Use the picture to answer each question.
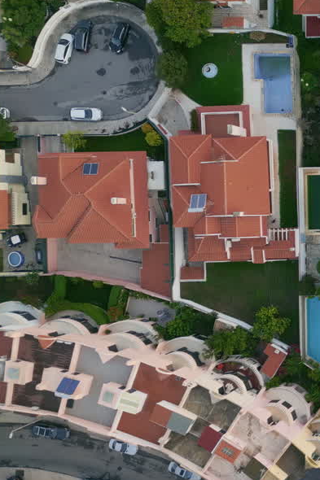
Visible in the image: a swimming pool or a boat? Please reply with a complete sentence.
The one in the frame is a swimming pool.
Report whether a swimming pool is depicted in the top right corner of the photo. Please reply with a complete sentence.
Yes, you'll find a swimming pool in the top right corner of the photo.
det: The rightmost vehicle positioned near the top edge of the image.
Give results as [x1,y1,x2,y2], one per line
[110,22,132,54]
